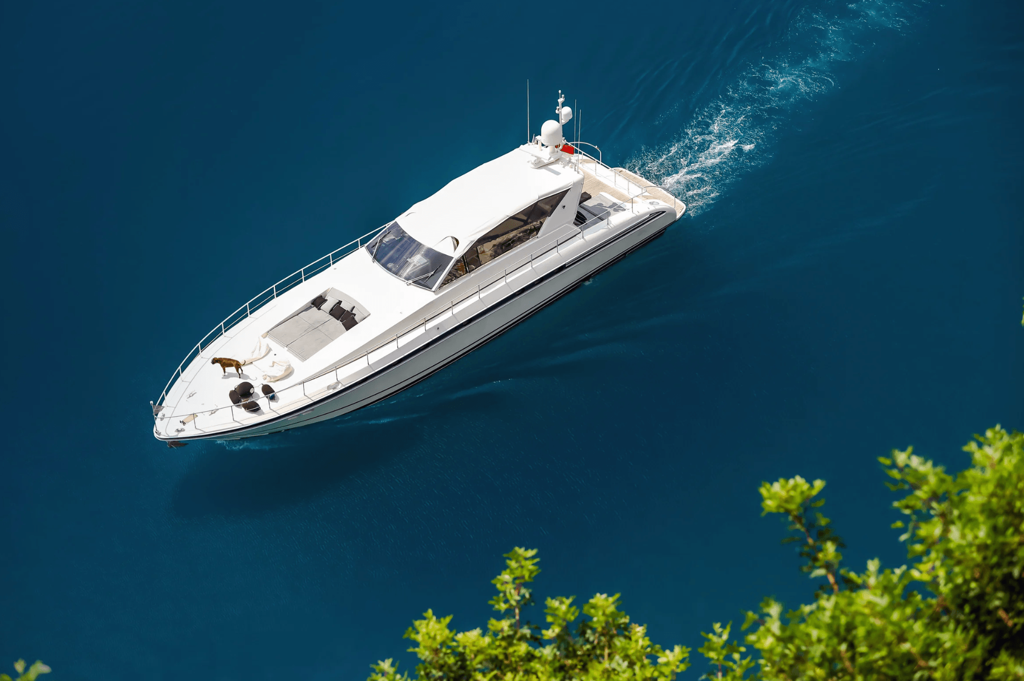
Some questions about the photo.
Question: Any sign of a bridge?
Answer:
No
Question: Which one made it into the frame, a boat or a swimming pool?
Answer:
boat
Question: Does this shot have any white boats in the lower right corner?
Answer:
No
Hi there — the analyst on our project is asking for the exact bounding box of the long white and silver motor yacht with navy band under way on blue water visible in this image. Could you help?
[150,80,684,447]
